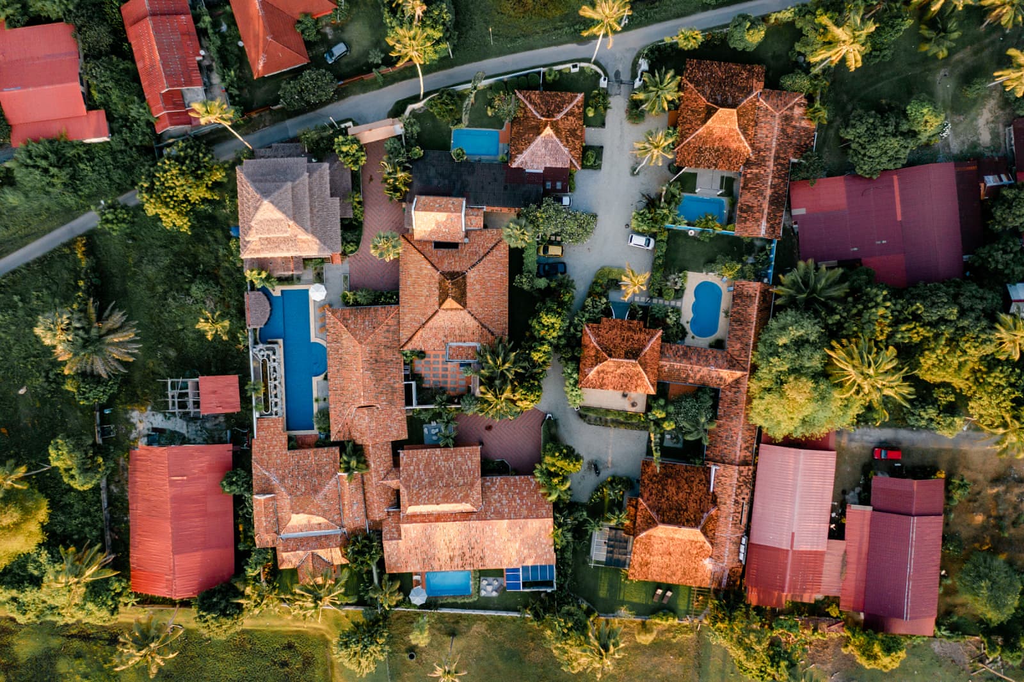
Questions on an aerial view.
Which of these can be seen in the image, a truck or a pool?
pool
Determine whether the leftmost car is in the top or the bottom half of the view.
top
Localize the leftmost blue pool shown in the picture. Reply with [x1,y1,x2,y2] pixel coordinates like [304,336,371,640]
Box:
[249,276,328,438]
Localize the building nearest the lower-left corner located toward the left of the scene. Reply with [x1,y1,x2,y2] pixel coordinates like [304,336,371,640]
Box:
[130,444,239,600]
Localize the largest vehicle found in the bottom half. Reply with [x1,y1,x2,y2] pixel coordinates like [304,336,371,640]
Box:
[873,447,902,462]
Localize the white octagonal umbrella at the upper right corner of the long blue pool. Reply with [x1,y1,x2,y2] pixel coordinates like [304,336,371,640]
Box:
[310,284,328,302]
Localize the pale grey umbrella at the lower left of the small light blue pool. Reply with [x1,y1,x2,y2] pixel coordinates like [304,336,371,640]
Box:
[409,586,428,604]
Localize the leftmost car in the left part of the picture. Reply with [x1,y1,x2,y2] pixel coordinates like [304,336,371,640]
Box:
[322,41,350,63]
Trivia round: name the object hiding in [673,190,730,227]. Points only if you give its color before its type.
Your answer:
blue swimming pool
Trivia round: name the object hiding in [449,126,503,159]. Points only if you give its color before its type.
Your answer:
blue swimming pool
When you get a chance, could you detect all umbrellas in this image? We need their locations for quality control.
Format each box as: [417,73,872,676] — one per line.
[310,284,328,302]
[409,586,428,604]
